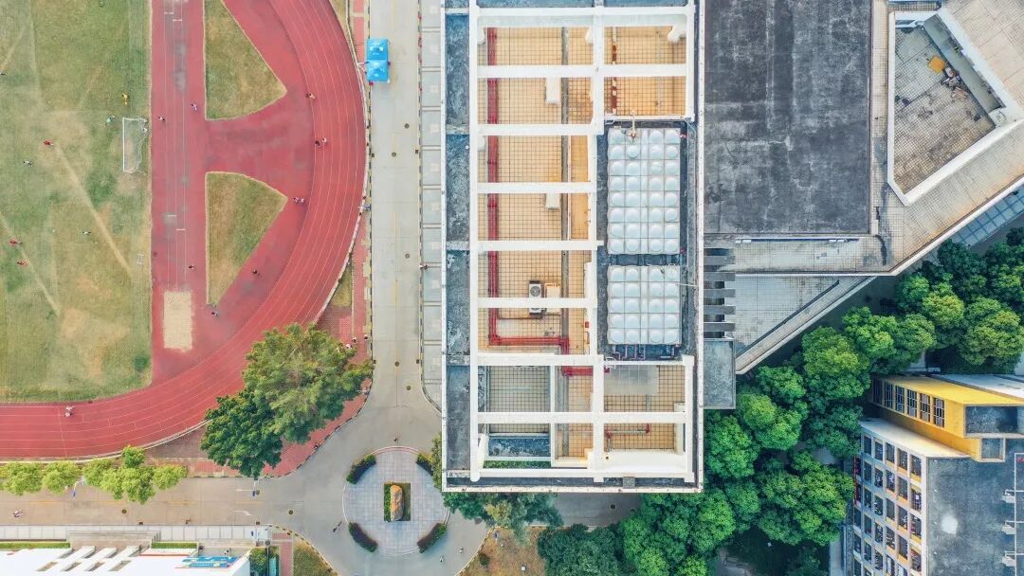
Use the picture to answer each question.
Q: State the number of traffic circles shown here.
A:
zero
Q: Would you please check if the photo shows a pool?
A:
No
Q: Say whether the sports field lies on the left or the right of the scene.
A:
left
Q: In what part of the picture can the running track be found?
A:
left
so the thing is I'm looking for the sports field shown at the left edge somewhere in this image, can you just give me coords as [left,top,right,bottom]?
[0,0,149,401]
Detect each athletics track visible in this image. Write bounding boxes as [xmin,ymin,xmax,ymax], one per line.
[0,0,368,462]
